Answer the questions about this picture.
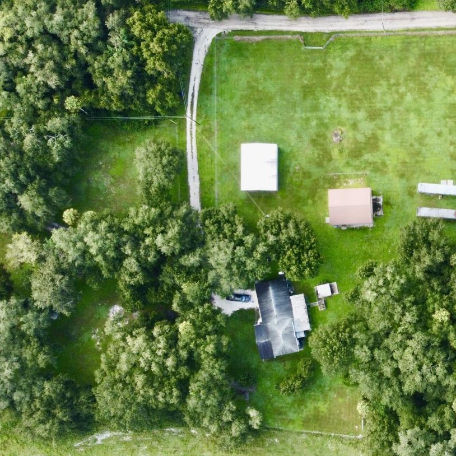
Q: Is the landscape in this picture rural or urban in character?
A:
rural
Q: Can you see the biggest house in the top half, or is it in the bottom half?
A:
bottom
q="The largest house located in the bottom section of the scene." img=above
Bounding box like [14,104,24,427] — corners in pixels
[255,278,310,360]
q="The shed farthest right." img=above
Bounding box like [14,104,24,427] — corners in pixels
[329,188,376,229]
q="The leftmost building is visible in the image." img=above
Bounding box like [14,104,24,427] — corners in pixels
[241,143,282,192]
